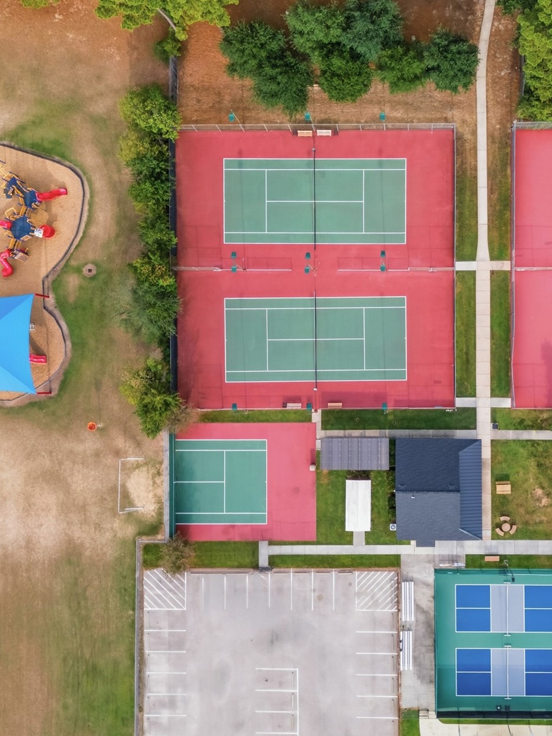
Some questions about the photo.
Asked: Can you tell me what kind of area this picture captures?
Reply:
sports ground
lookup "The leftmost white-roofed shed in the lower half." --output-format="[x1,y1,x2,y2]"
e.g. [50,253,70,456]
[345,480,372,531]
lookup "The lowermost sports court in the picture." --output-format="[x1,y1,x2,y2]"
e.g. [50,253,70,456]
[437,641,552,712]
